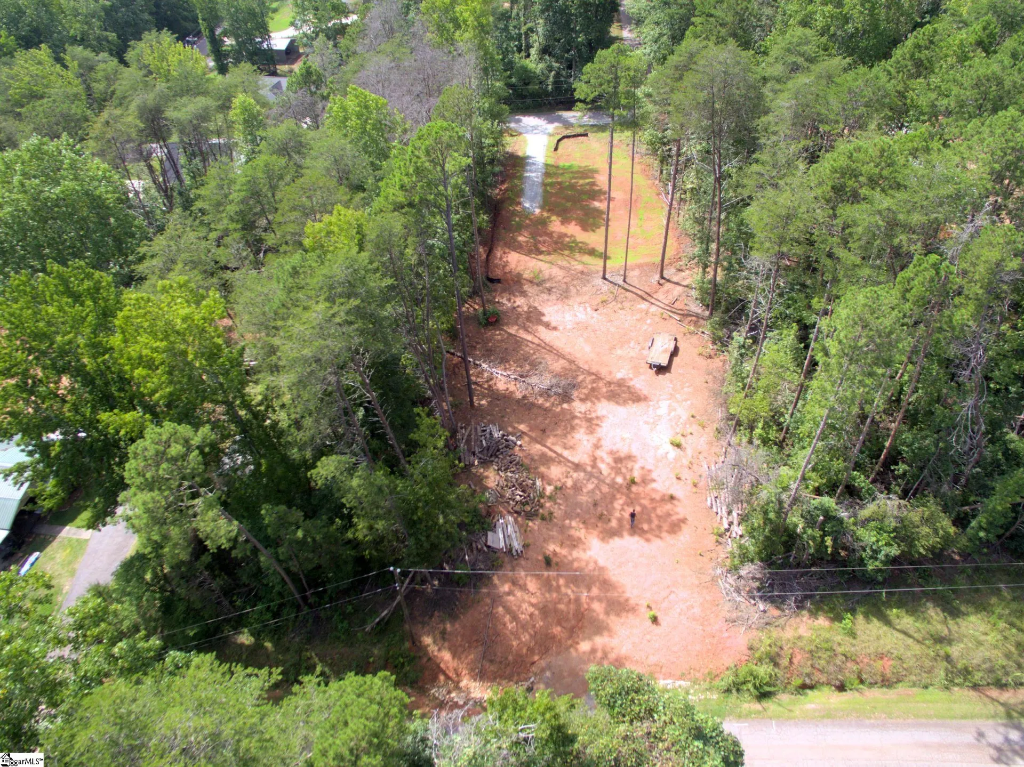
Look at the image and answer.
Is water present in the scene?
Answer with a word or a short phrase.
No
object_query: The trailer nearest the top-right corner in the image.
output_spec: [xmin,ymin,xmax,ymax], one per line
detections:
[644,333,677,376]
